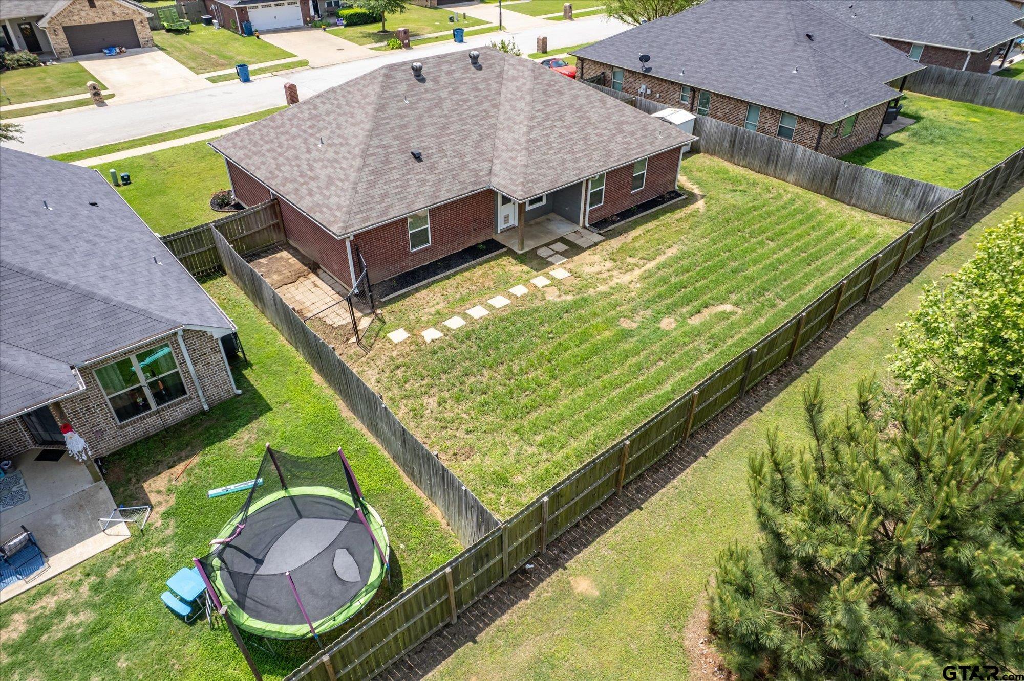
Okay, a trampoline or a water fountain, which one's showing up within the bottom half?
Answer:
trampoline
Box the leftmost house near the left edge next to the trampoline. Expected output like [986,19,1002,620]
[0,148,244,600]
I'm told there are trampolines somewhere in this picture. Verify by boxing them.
[192,445,391,671]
